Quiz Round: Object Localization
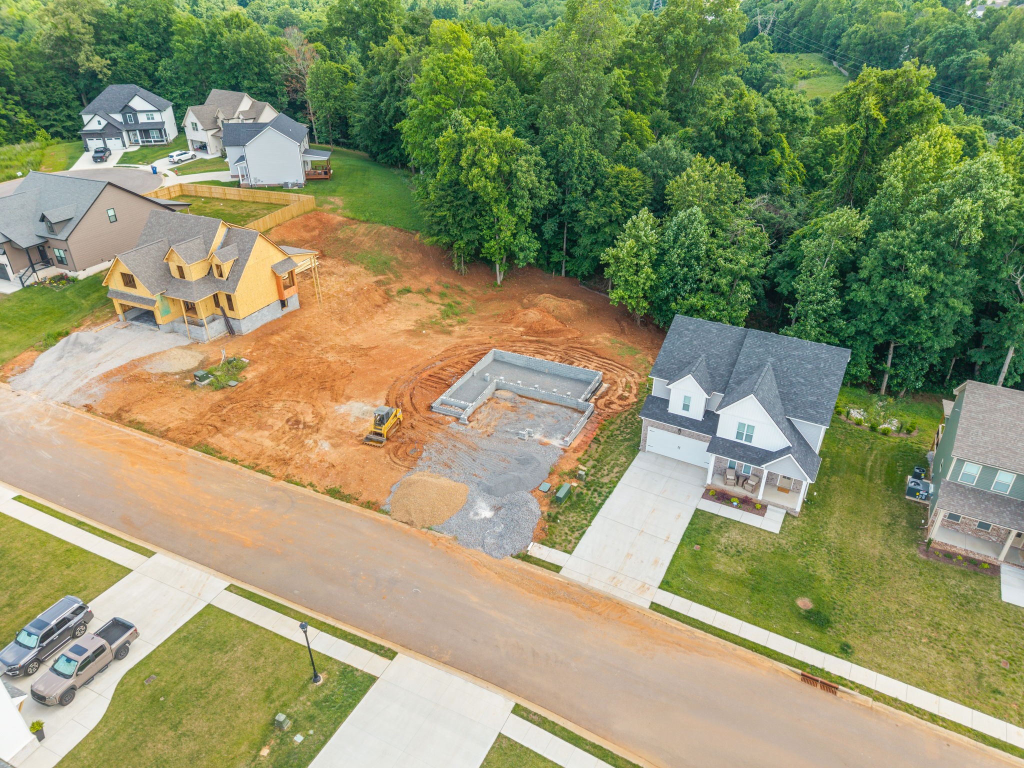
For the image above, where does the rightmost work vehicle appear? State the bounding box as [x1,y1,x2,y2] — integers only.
[363,407,402,445]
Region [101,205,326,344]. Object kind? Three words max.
house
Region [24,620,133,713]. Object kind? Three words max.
truck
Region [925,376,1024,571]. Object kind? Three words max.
building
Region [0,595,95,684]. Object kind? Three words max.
car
